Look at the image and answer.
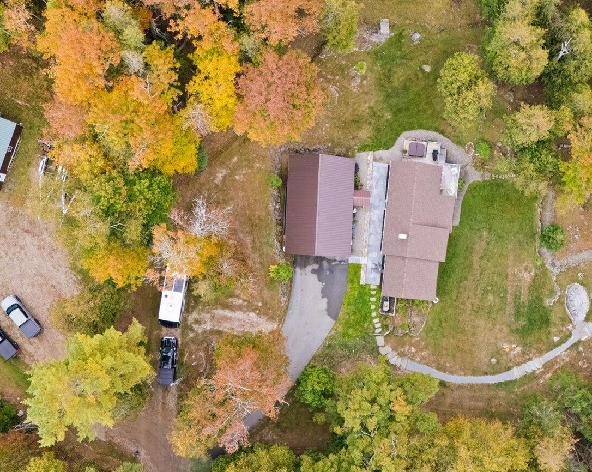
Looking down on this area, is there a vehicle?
Yes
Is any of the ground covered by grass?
Yes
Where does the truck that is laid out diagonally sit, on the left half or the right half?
left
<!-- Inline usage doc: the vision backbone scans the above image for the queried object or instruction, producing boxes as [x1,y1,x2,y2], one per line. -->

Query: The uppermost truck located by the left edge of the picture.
[0,293,39,341]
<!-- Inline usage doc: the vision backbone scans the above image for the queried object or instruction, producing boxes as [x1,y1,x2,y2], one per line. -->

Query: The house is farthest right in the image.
[382,161,455,301]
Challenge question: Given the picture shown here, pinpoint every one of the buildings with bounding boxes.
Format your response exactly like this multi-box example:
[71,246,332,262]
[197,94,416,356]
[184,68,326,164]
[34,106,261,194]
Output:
[285,153,355,257]
[382,161,455,301]
[0,118,24,190]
